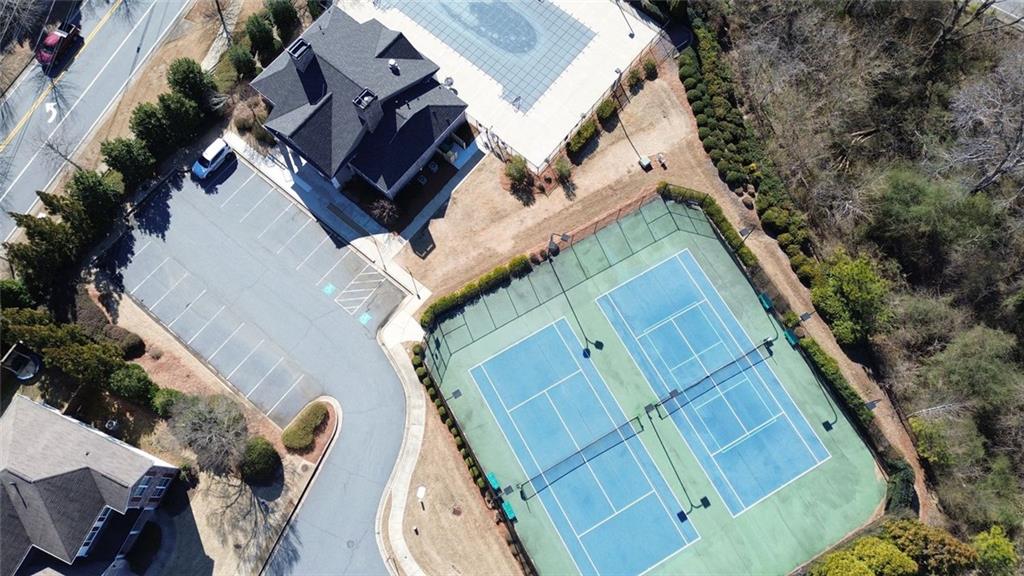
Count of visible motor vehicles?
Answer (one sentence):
In total, 2 motor vehicles can be seen.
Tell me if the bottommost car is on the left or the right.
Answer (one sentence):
It is on the left.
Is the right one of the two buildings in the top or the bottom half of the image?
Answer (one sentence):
The right one of the two buildings is in the top half of the image.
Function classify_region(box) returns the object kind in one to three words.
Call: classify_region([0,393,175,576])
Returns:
house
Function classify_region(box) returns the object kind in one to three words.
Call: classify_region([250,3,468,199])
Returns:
building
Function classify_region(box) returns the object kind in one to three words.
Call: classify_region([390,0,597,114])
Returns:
swimming pool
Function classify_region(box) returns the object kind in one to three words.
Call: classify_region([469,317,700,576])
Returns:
tennis court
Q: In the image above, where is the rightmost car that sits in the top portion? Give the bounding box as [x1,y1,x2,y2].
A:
[191,138,231,174]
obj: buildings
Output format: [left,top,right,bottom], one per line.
[250,3,468,199]
[0,393,175,576]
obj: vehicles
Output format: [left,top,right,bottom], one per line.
[191,138,231,174]
[33,13,80,58]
